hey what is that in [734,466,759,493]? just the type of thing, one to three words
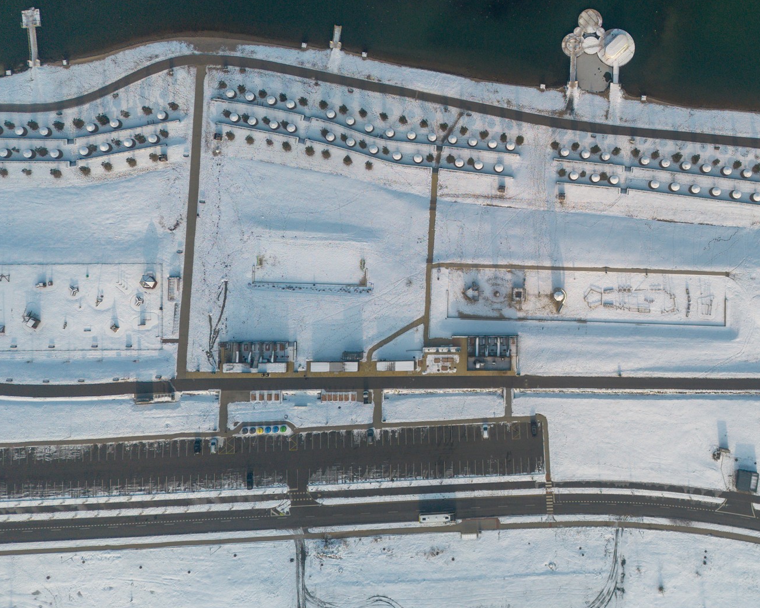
shed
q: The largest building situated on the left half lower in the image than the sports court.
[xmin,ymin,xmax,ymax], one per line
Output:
[219,340,299,372]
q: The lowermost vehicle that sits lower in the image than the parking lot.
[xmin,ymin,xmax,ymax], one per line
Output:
[419,511,460,523]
